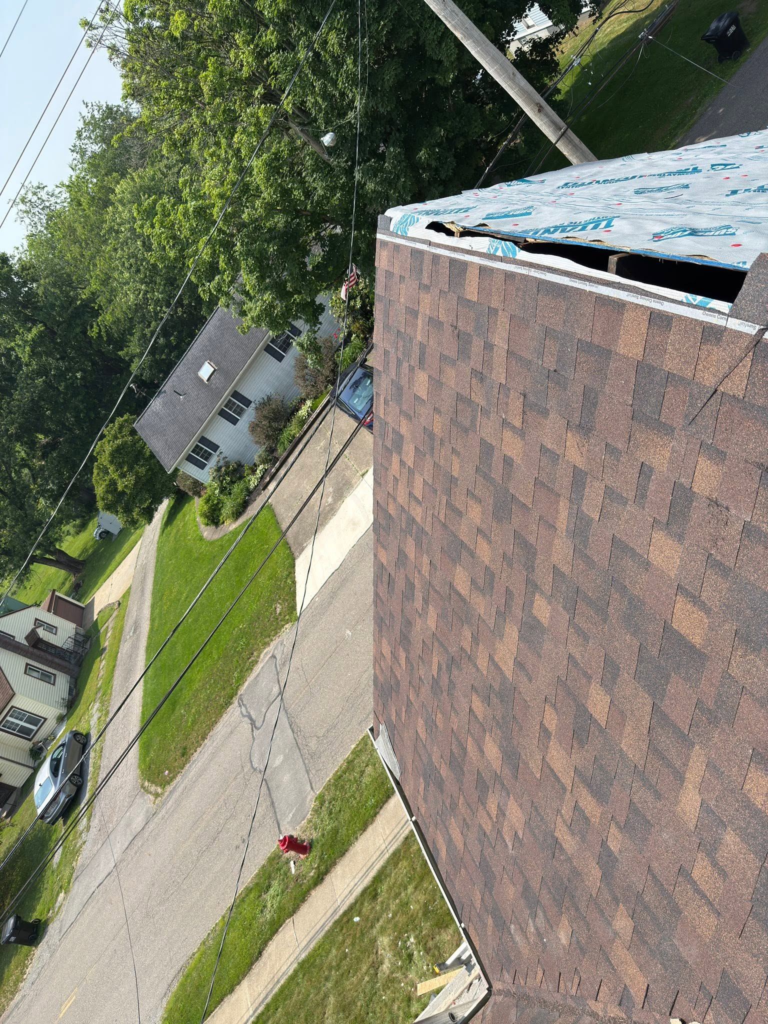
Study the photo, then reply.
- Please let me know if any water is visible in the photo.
No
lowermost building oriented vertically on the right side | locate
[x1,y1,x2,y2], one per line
[367,125,768,1024]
